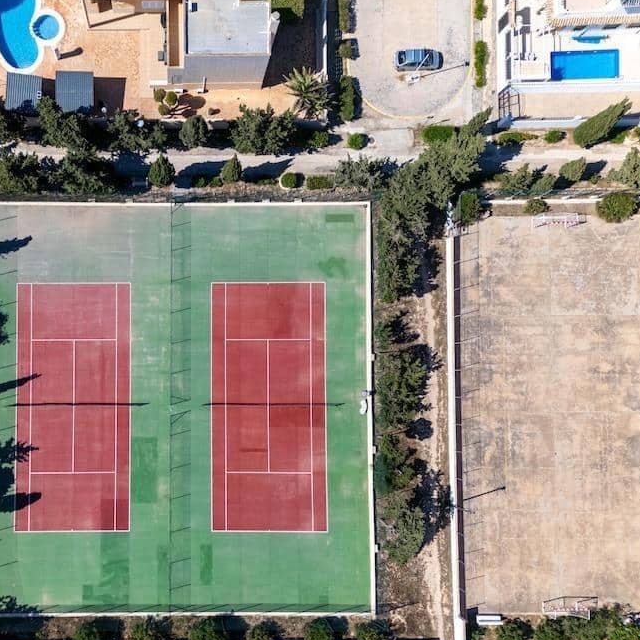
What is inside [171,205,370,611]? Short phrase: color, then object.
green tennis court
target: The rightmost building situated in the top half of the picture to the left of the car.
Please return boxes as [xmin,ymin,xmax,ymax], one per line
[84,0,282,92]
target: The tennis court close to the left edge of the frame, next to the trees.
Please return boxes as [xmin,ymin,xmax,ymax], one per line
[0,206,171,611]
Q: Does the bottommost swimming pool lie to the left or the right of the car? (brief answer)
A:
on the right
